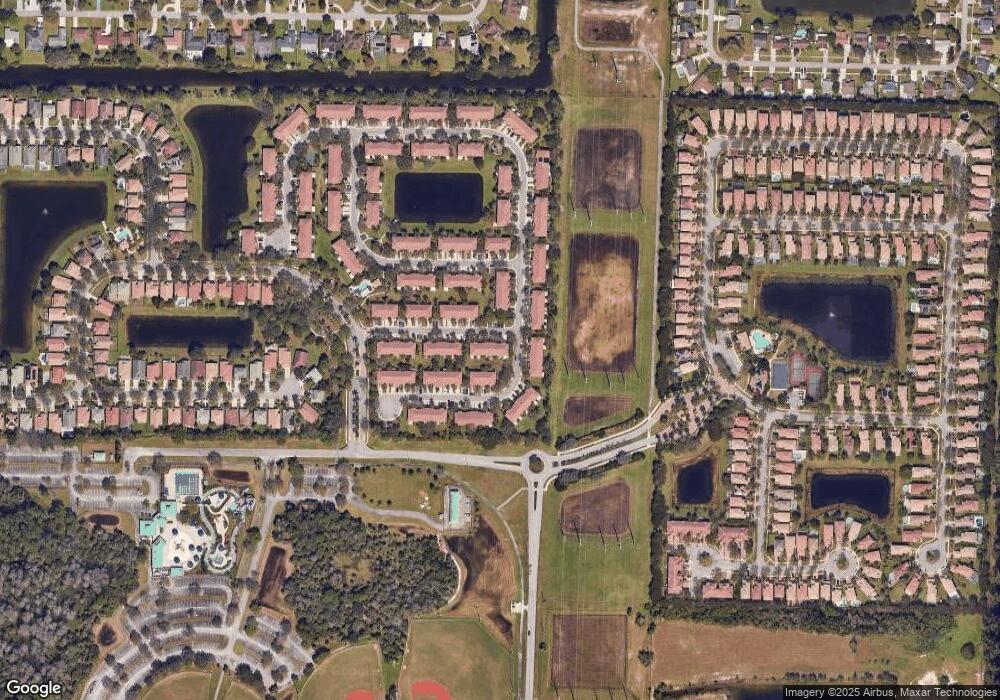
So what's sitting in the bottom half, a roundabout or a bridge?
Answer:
roundabout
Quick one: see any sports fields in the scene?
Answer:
Yes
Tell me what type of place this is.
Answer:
residential area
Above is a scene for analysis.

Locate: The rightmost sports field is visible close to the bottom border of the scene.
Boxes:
[402,620,513,700]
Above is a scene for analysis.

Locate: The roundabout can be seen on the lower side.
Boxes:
[494,449,558,511]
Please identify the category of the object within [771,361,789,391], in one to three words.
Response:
basketball court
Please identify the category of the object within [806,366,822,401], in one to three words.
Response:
tennis court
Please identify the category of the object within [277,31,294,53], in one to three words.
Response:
house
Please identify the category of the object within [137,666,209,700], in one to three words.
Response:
sports field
